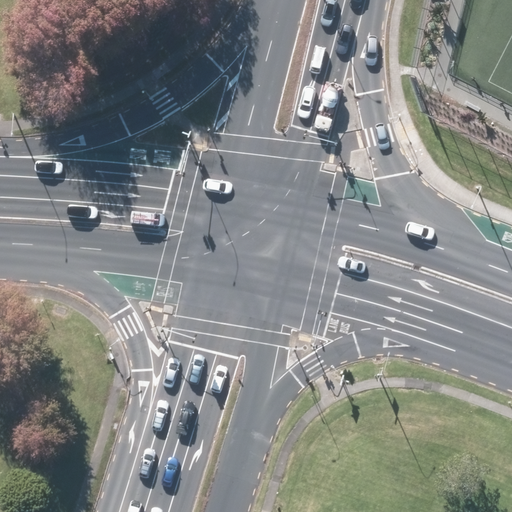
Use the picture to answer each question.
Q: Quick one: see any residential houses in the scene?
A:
No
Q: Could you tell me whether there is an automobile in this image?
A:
Yes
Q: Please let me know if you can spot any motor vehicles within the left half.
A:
Yes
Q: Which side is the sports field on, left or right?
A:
right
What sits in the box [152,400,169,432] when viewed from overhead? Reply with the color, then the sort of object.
white car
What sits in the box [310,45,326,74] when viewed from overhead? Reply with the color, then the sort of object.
white vehicle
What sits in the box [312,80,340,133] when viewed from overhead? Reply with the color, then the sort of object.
white truck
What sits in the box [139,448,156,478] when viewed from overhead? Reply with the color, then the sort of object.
white car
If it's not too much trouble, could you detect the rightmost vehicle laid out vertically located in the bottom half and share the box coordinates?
[210,364,227,394]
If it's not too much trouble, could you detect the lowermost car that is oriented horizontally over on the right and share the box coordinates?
[336,257,366,274]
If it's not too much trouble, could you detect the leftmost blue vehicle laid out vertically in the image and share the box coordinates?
[162,457,178,487]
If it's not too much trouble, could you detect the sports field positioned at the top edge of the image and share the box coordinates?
[455,0,512,102]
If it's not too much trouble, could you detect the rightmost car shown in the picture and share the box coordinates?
[404,222,435,240]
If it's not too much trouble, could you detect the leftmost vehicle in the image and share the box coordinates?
[34,161,63,176]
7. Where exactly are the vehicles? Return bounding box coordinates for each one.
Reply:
[130,212,165,228]
[139,448,156,478]
[188,354,204,384]
[149,506,162,512]
[152,400,169,432]
[312,80,340,133]
[66,204,98,220]
[336,257,366,274]
[162,457,178,487]
[374,123,390,150]
[404,222,435,240]
[298,86,316,118]
[310,45,326,74]
[364,35,379,66]
[163,357,180,388]
[202,179,233,195]
[128,500,142,512]
[34,161,63,176]
[321,0,338,26]
[210,364,227,394]
[352,0,367,10]
[176,400,195,436]
[336,24,354,55]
